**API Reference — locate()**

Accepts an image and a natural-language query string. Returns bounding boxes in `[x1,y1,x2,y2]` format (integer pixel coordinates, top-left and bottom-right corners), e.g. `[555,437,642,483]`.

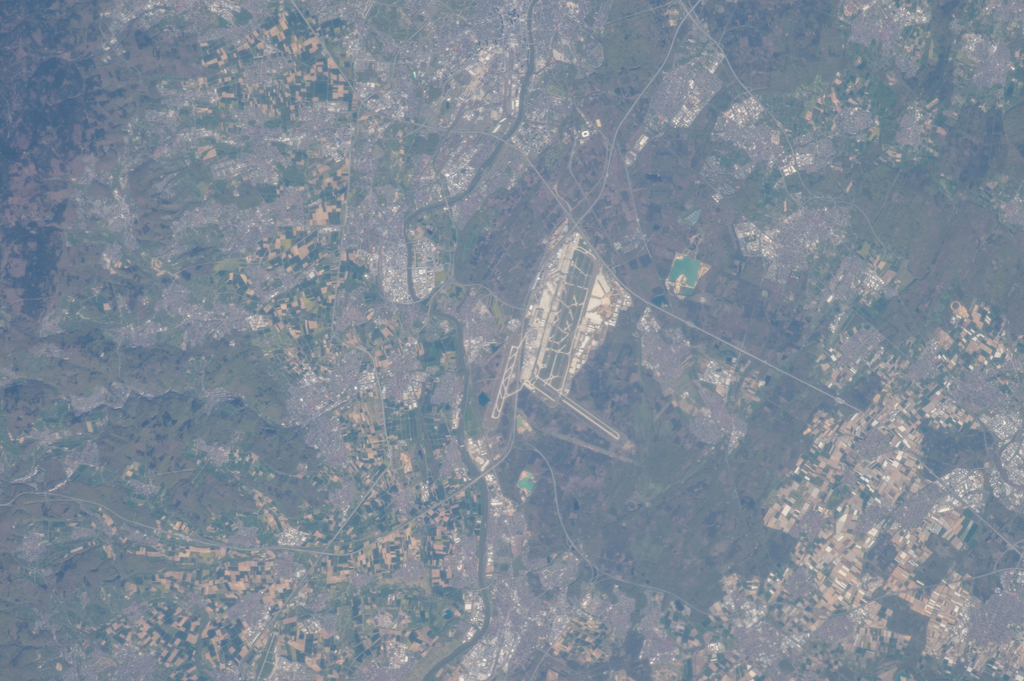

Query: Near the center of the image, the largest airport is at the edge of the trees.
[484,225,633,442]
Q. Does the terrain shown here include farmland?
Yes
